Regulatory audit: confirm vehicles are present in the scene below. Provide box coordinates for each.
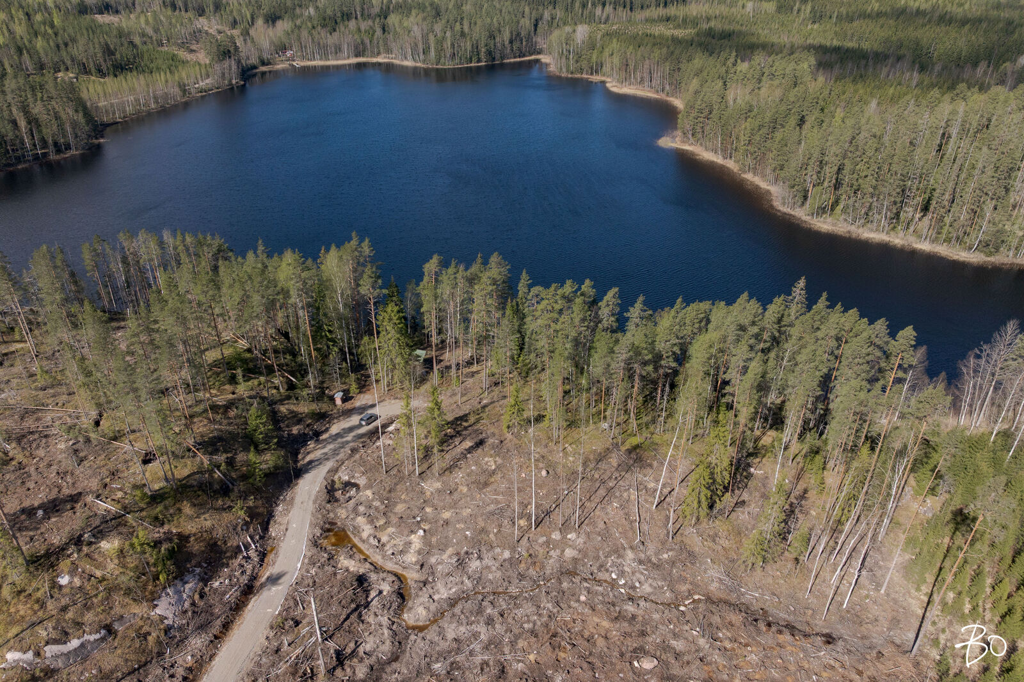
[358,414,381,428]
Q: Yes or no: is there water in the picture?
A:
Yes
